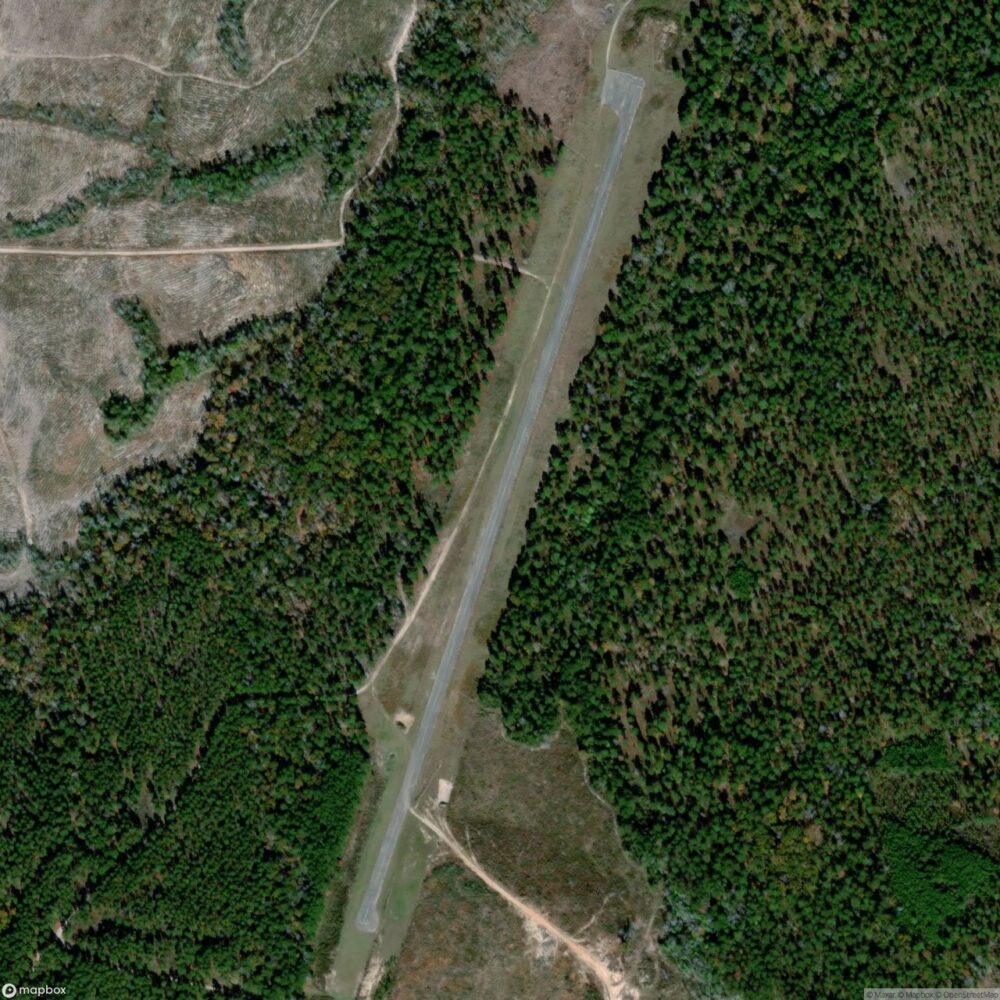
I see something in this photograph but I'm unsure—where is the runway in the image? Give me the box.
[356,69,646,933]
